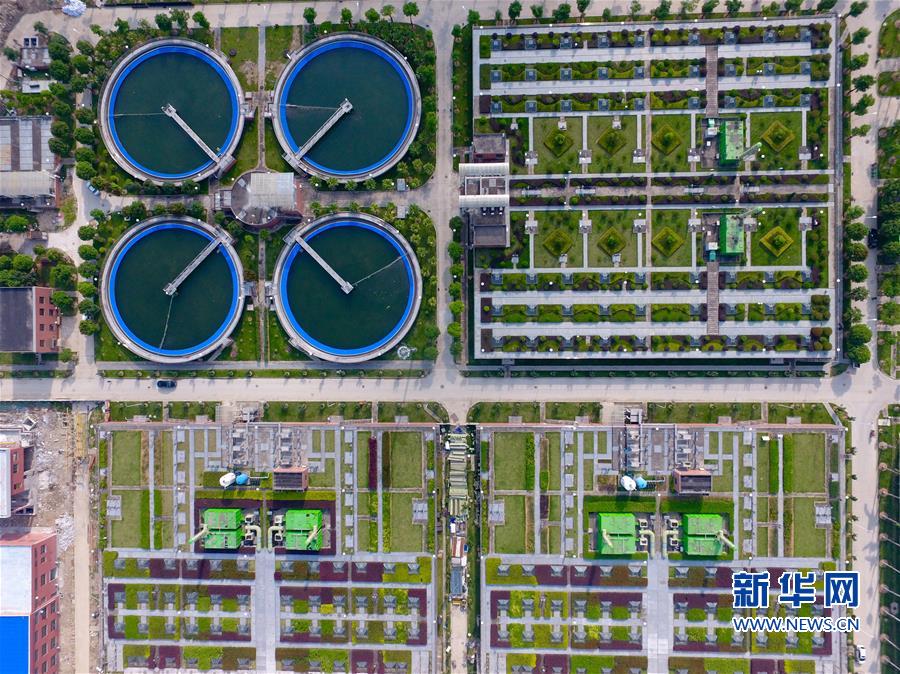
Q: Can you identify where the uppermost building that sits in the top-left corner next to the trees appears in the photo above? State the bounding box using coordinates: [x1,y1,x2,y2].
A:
[18,38,61,80]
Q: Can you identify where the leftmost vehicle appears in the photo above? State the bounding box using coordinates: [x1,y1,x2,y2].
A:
[84,180,102,197]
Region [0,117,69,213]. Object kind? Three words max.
building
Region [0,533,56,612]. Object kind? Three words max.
building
